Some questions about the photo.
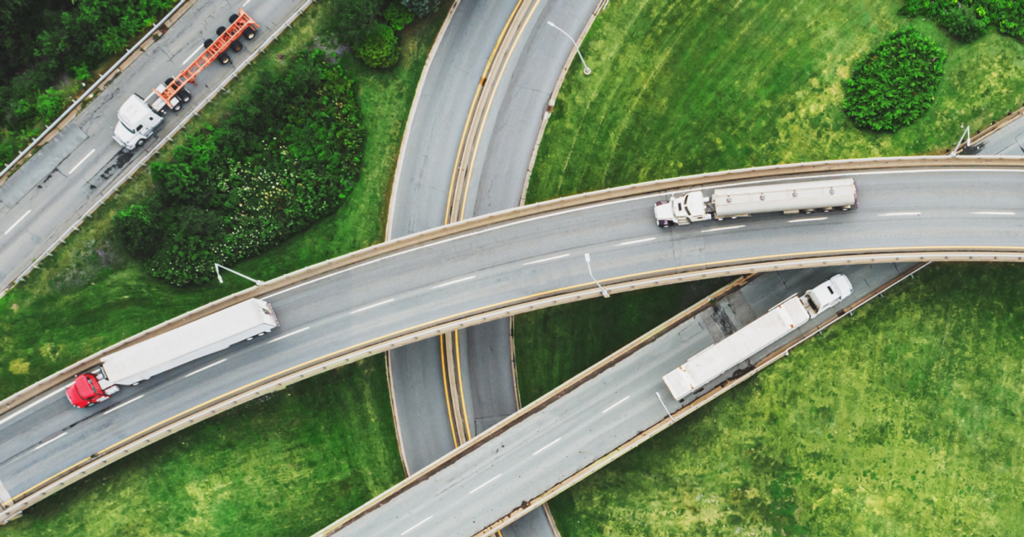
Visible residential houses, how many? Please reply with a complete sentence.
Not a single residential house can be seen.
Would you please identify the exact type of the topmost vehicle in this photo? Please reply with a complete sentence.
It looks like the topmost vehicle is a truck.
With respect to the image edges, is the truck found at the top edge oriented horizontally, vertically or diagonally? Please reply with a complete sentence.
In this picture, the truck found at the top edge is oriented diagonally.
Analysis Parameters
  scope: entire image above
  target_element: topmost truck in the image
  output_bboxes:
[114,4,257,151]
